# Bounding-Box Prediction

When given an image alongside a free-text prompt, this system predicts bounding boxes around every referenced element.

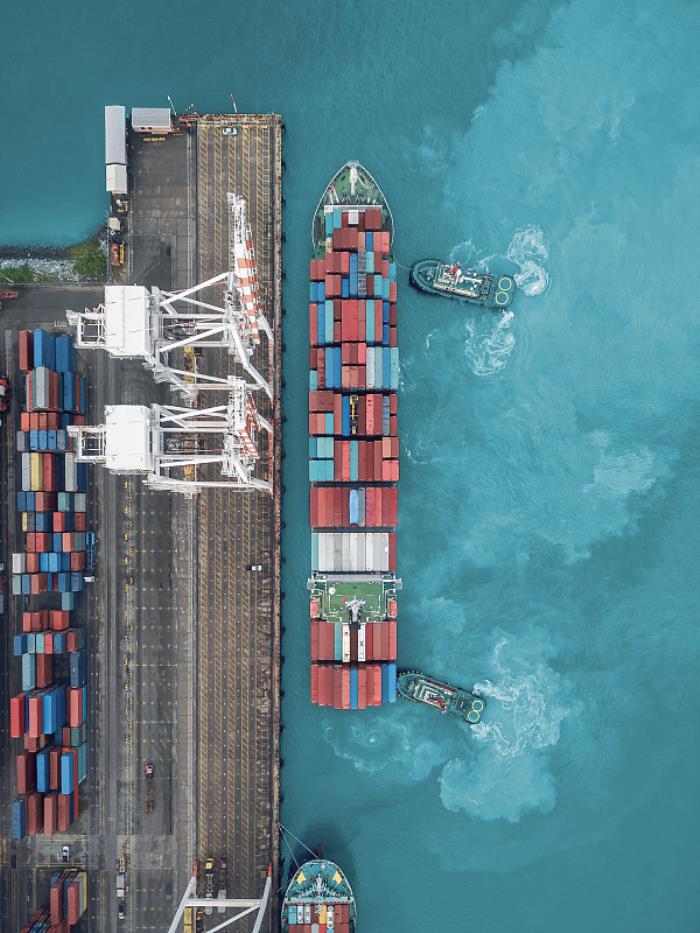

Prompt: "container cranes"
[66,371,274,502]
[66,185,274,410]
[169,866,274,933]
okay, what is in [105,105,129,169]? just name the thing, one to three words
building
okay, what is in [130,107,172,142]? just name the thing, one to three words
building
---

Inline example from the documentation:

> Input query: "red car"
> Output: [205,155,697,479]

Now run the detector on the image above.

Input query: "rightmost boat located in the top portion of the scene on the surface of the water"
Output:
[408,259,519,311]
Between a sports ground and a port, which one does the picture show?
port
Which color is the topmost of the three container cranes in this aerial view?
white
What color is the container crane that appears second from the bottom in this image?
white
